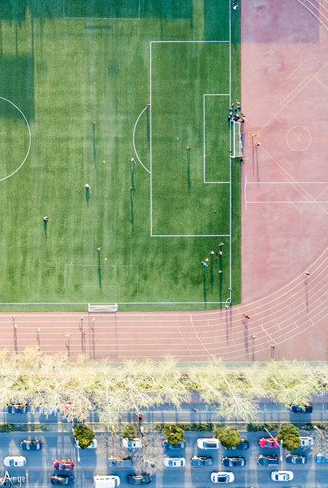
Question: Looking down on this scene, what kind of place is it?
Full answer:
The area seen from above is a sports ground.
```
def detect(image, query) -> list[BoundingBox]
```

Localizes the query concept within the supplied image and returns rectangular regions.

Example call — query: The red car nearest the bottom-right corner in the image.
[256,436,280,448]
